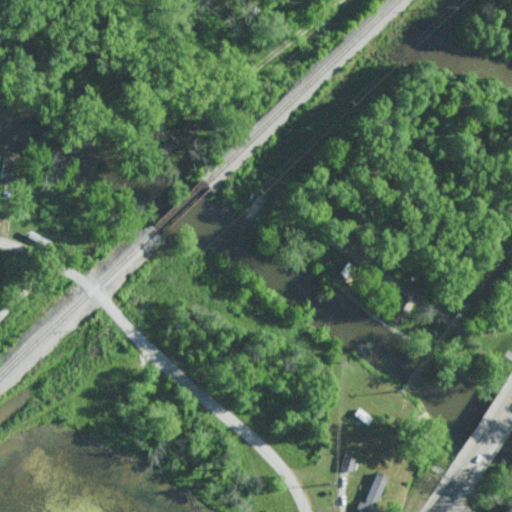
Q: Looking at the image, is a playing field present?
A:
No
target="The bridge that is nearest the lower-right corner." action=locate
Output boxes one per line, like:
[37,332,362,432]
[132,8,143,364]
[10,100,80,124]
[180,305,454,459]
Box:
[423,374,512,512]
